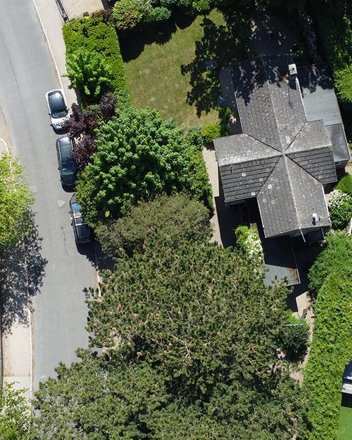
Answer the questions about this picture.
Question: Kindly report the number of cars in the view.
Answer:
3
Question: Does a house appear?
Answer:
Yes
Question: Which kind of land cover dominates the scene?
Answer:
trees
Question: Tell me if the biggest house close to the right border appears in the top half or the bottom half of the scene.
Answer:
top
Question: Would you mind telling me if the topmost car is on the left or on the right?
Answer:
left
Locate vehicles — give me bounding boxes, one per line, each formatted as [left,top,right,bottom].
[44,88,70,134]
[52,136,81,194]
[65,191,96,247]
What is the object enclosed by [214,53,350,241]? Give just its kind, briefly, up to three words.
house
